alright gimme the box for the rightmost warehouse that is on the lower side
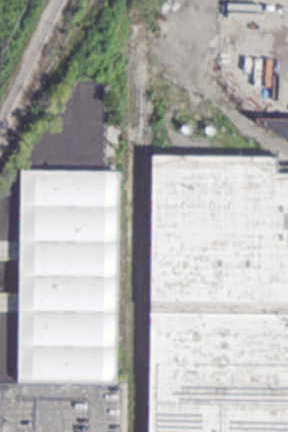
[150,156,288,432]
